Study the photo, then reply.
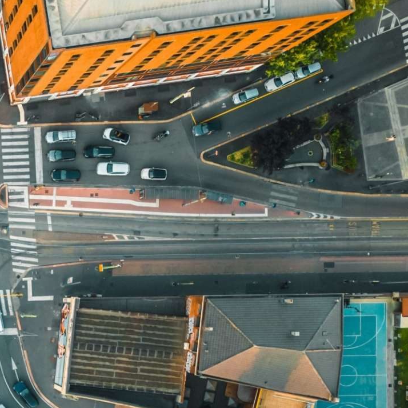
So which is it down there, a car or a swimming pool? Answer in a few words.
car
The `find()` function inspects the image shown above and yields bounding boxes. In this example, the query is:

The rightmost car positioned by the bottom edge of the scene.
[14,377,37,408]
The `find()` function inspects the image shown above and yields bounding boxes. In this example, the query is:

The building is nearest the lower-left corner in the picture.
[51,294,188,408]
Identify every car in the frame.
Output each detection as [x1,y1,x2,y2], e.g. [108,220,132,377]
[49,167,80,182]
[95,161,130,176]
[262,74,297,92]
[101,127,132,146]
[46,148,76,162]
[294,61,323,80]
[139,167,167,181]
[44,129,77,145]
[229,88,259,105]
[82,145,116,160]
[192,121,223,137]
[14,377,37,408]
